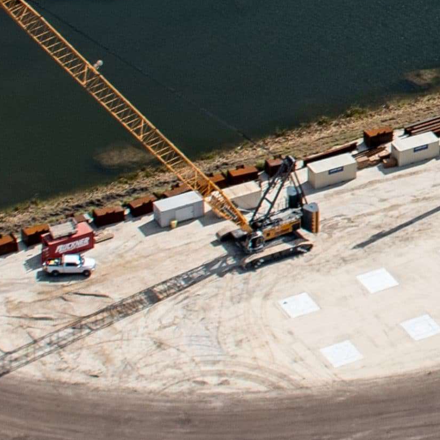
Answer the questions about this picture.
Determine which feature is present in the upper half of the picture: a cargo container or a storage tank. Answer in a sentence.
What appears in the upper half of the picture is a cargo container.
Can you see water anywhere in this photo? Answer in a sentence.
Yes, there's water in this view.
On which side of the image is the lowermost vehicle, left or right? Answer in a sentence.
You can find the lowermost vehicle on the left side of the picture.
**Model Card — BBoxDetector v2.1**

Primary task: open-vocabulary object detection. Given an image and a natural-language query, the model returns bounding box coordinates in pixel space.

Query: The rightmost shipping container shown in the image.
[391,130,439,166]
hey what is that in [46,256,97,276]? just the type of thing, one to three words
vehicle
